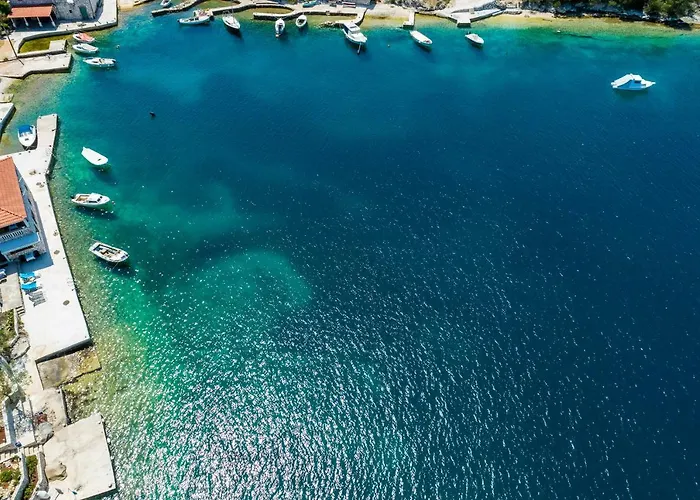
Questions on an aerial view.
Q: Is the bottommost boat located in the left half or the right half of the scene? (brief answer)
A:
left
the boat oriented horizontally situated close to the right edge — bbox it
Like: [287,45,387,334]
[607,73,667,91]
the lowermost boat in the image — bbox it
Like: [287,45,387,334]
[88,232,129,270]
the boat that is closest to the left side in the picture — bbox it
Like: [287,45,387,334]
[16,121,35,146]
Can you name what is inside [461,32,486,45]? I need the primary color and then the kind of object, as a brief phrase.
white boat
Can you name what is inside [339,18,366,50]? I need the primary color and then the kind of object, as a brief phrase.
white boat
